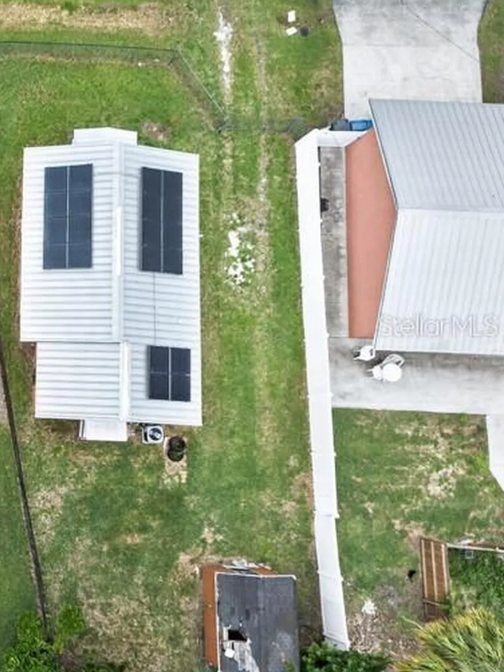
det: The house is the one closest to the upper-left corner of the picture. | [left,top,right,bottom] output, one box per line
[17,125,203,442]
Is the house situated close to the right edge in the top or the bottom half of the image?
top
